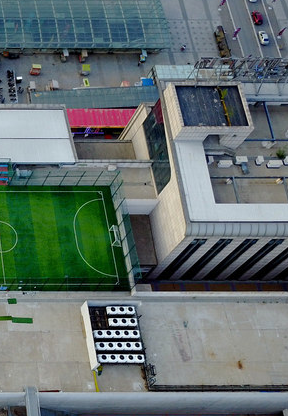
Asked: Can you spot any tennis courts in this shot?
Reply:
No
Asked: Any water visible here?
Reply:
No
